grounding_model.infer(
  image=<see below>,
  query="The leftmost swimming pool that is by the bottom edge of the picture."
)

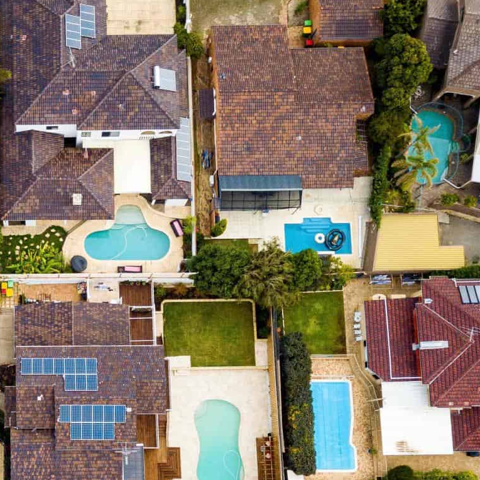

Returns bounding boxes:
[191,396,248,480]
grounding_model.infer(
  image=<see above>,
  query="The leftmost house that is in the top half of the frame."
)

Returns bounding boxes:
[0,0,192,224]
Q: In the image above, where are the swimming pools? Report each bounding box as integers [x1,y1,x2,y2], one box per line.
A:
[403,105,458,188]
[311,379,359,472]
[191,396,248,480]
[283,215,353,256]
[81,201,174,264]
